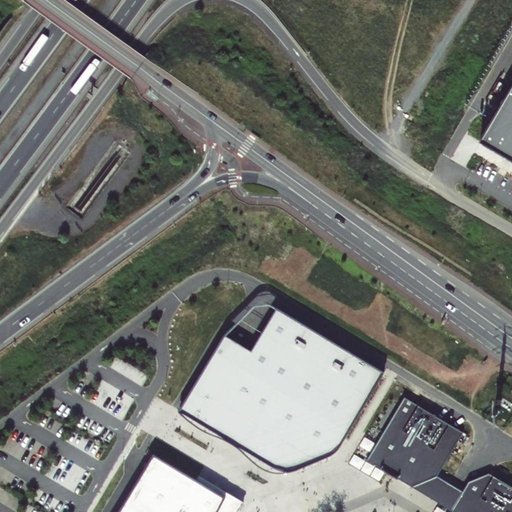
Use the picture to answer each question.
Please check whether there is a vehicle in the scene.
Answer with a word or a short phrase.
Yes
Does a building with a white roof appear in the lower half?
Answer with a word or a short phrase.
Yes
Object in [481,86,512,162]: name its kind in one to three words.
building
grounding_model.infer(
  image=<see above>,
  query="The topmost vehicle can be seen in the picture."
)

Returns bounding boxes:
[20,32,50,70]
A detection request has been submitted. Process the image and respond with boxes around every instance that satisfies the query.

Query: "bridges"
[21,0,151,84]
